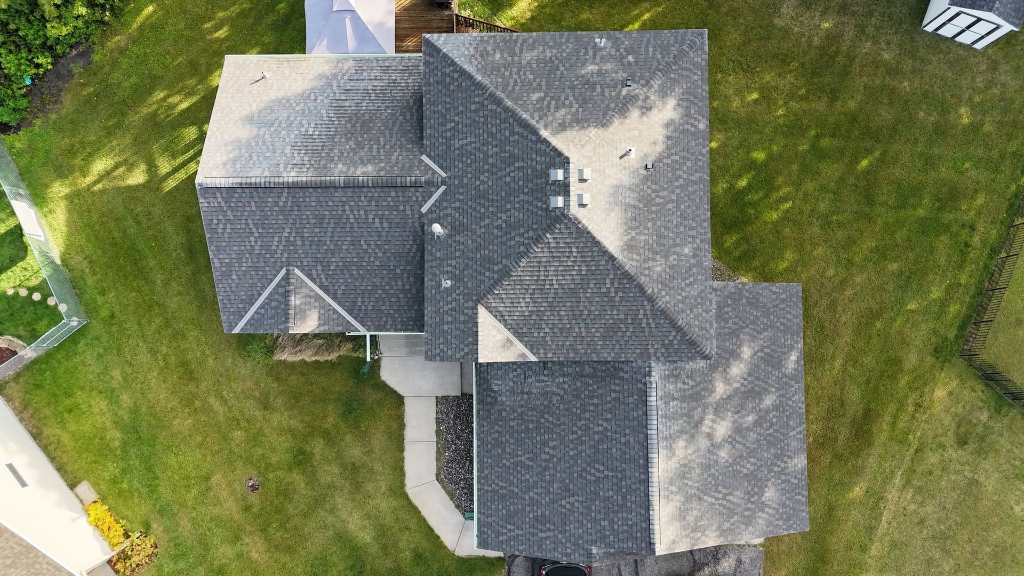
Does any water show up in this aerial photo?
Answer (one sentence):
No, the scene doesn't show any water.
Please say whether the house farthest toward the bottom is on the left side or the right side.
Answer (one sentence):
The house farthest toward the bottom appears in the left half of the scene.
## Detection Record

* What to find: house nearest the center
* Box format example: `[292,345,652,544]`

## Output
[195,28,808,566]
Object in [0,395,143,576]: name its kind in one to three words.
house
